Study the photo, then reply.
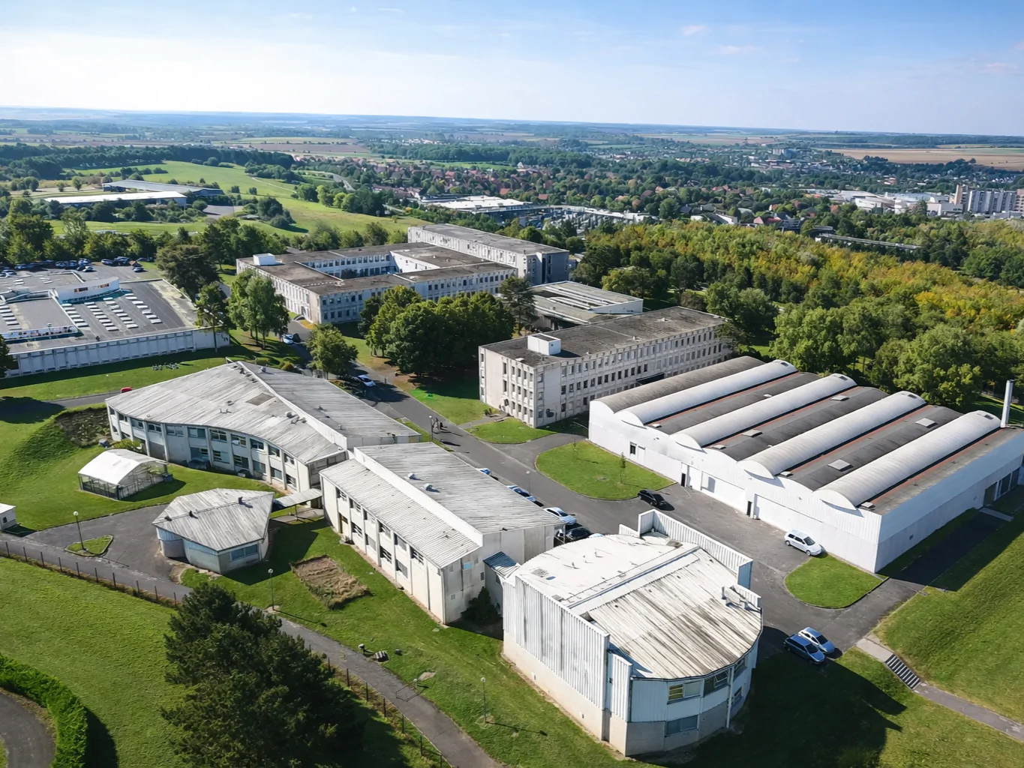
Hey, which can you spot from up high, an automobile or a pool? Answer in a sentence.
This aerial view contains an automobile.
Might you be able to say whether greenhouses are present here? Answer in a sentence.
Yes, I can see a greenhouse in this picture.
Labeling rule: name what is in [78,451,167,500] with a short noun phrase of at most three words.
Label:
greenhouse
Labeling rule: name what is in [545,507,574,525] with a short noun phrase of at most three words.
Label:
car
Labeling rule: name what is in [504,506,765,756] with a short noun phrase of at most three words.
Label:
building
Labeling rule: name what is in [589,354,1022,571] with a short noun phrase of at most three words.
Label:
building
